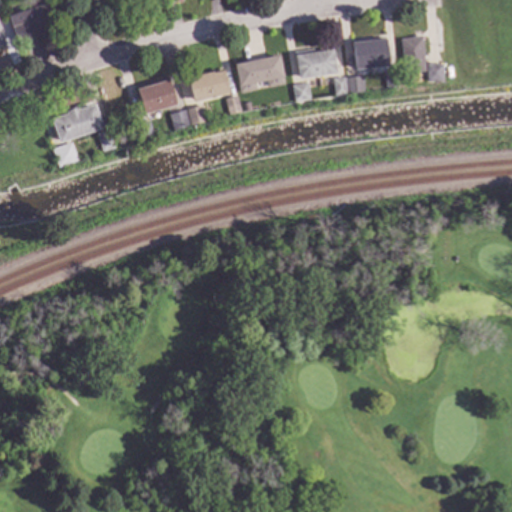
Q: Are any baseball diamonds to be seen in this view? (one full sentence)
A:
No, no baseball diamond is visible in the view.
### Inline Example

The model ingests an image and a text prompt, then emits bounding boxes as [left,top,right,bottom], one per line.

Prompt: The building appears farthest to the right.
[428,62,447,84]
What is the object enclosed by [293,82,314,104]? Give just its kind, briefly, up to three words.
building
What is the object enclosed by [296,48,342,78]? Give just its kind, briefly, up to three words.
house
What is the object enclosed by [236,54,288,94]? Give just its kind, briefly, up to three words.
house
